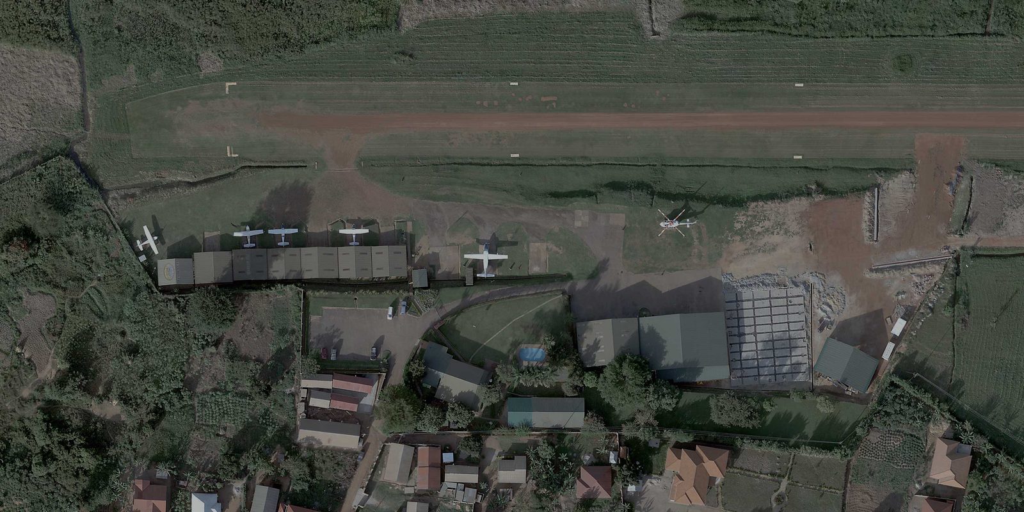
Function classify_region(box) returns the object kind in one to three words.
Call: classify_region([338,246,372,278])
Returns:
hangar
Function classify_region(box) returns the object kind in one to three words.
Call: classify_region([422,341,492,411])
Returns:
building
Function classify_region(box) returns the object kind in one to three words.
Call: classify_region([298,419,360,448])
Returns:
shed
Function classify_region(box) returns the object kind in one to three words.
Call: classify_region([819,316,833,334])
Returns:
vehicle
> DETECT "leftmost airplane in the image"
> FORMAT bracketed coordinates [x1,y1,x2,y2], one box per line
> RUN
[135,226,158,254]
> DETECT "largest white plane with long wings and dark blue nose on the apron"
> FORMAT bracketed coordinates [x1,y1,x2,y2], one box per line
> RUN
[464,243,508,279]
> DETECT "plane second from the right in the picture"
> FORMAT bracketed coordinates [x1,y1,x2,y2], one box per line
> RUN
[339,224,369,245]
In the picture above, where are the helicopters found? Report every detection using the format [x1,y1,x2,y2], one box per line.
[655,209,696,238]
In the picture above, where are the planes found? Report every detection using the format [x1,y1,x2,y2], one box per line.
[268,223,298,246]
[464,243,508,279]
[135,226,158,254]
[339,224,369,245]
[233,225,263,247]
